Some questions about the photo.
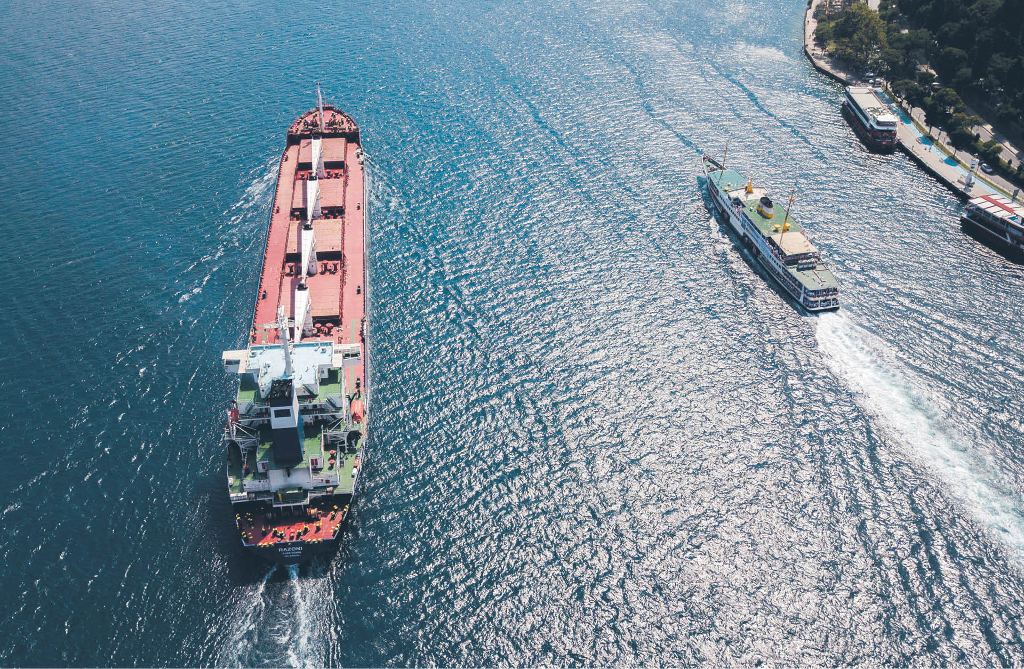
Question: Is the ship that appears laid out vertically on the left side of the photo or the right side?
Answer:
left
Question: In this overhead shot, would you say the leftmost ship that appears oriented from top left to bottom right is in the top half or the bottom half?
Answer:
top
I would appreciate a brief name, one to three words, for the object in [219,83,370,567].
ship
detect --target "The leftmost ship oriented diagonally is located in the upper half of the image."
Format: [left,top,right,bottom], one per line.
[704,146,840,312]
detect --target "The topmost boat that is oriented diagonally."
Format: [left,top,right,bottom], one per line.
[845,86,898,149]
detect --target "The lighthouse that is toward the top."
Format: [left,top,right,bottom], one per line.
[961,159,981,191]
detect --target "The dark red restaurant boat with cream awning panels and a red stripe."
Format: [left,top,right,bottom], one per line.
[963,195,1024,259]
